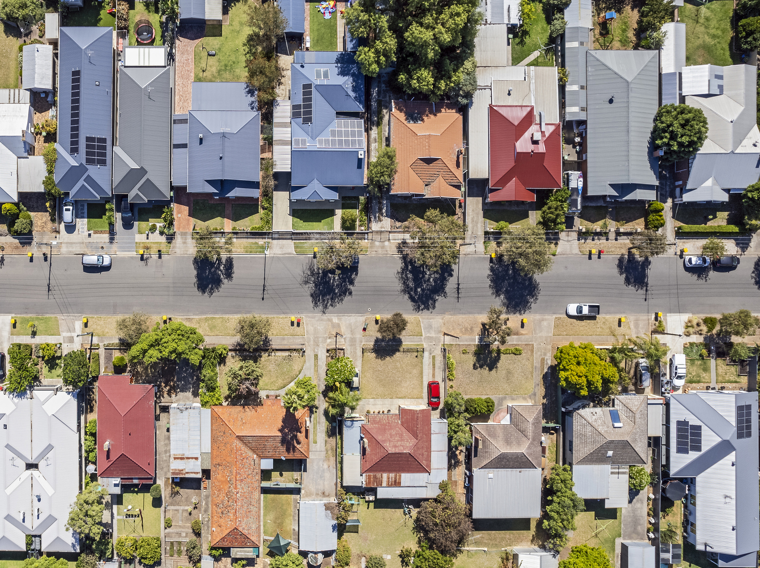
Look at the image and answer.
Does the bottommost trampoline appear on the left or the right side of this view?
left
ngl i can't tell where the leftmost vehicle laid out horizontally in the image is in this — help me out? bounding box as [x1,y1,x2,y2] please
[82,253,113,268]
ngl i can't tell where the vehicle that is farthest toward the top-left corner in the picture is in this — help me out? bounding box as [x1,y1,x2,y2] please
[60,196,76,225]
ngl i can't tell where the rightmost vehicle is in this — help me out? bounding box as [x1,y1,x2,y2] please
[712,254,741,268]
